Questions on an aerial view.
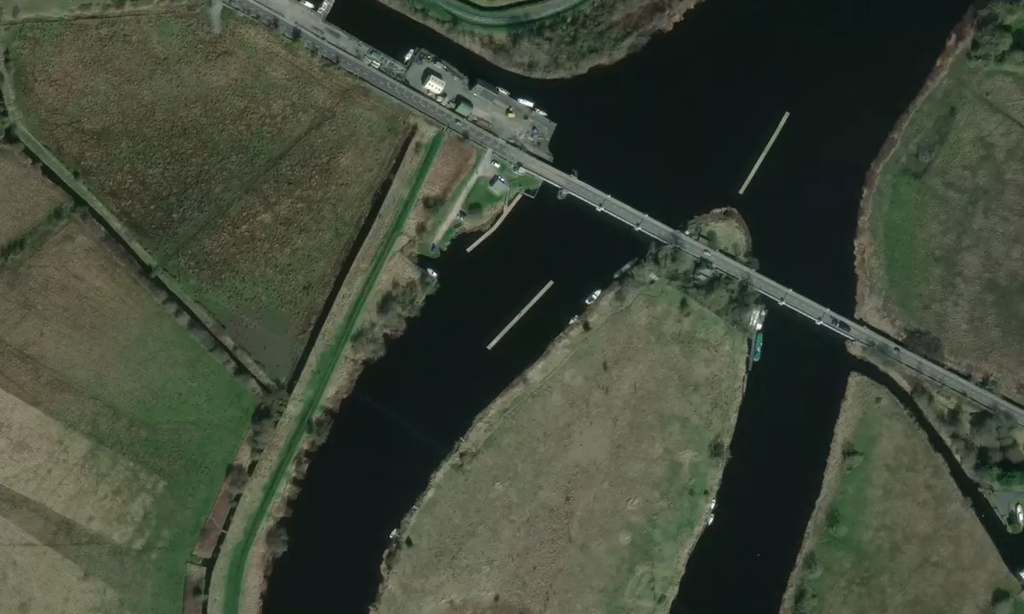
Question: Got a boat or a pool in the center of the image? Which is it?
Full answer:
It is a boat that can be seen in the center of the image.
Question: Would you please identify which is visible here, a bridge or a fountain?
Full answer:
This aerial view contains a bridge.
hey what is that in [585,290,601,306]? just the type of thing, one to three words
boat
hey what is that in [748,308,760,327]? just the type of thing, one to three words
boat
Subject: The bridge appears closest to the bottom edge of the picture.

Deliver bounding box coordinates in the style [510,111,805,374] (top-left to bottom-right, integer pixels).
[750,272,863,342]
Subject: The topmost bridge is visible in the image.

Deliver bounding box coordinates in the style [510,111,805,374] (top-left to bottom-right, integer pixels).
[526,156,677,245]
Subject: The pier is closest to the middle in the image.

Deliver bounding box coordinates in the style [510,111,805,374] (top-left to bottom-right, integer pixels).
[487,281,553,349]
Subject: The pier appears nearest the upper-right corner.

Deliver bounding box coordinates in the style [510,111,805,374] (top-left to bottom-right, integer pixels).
[740,112,789,194]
